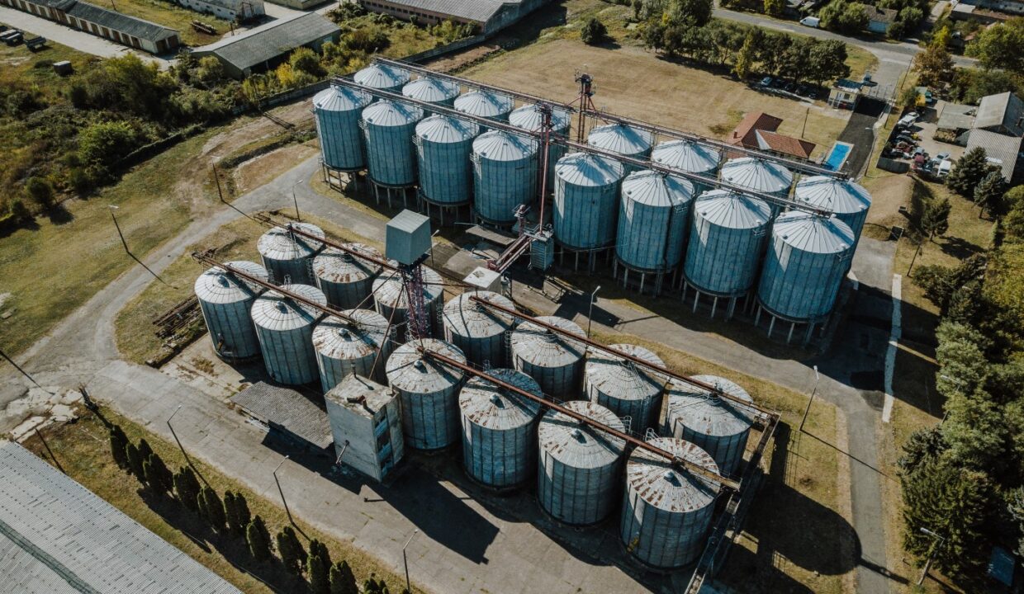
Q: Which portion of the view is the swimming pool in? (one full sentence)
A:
You can find the swimming pool in the top right area of the picture.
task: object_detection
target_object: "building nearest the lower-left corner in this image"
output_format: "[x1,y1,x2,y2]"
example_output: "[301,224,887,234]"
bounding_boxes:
[0,440,245,594]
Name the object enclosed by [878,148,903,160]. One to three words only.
vehicle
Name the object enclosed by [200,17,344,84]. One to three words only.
shed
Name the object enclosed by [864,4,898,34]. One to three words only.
house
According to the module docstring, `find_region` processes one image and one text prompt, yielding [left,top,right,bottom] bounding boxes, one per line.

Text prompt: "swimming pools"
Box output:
[824,139,854,168]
